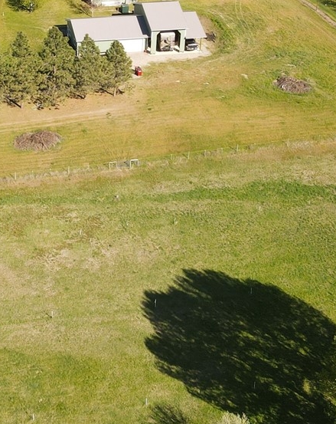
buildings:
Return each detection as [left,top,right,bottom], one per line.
[90,0,129,6]
[69,0,207,56]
